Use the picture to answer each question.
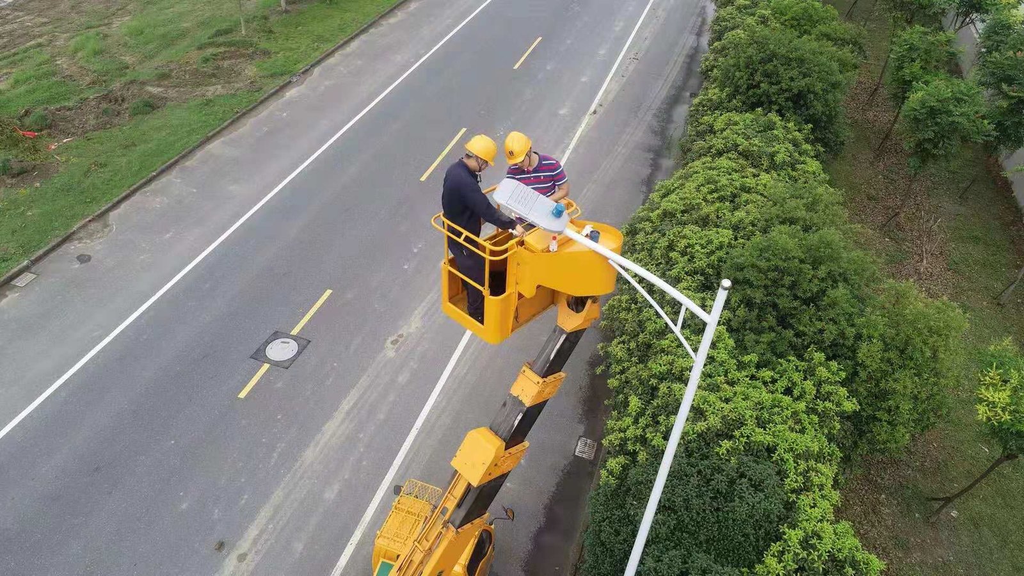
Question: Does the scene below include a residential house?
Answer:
No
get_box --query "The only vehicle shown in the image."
[367,174,623,576]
